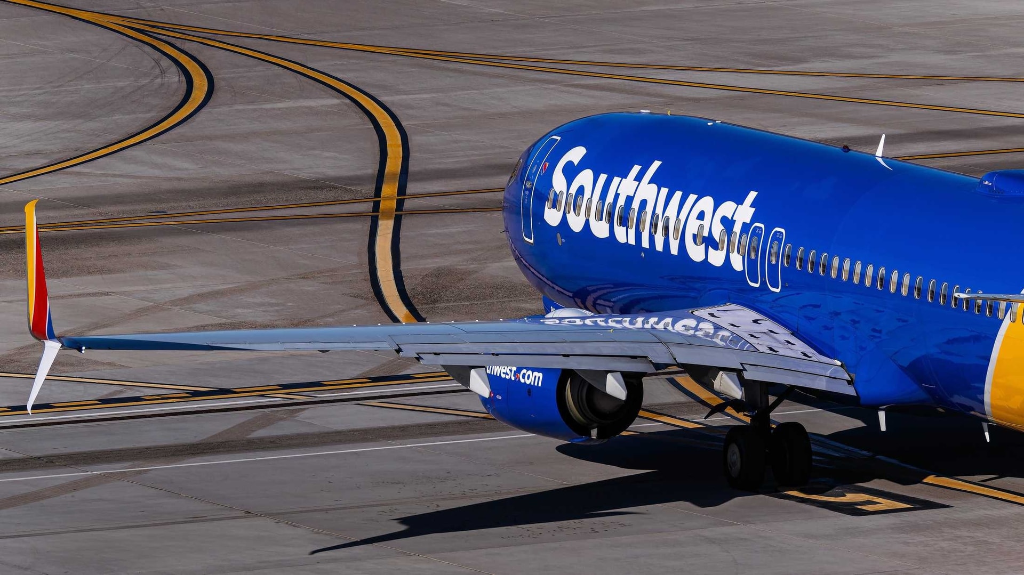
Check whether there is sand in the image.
No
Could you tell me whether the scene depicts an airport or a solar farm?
airport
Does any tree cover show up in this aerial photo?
No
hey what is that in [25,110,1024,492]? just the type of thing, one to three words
airplane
